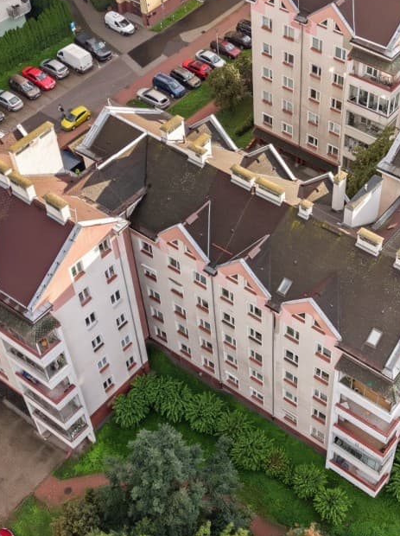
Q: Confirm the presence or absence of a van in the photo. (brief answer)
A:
Yes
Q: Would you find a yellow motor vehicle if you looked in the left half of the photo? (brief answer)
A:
Yes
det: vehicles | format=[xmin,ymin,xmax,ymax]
[20,65,56,91]
[76,32,109,59]
[192,47,229,71]
[167,63,203,91]
[134,84,171,110]
[37,55,70,80]
[151,71,187,99]
[102,5,135,34]
[181,56,211,81]
[233,15,250,37]
[57,41,94,73]
[6,73,43,101]
[221,27,250,52]
[0,88,25,113]
[210,35,242,61]
[58,102,95,131]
